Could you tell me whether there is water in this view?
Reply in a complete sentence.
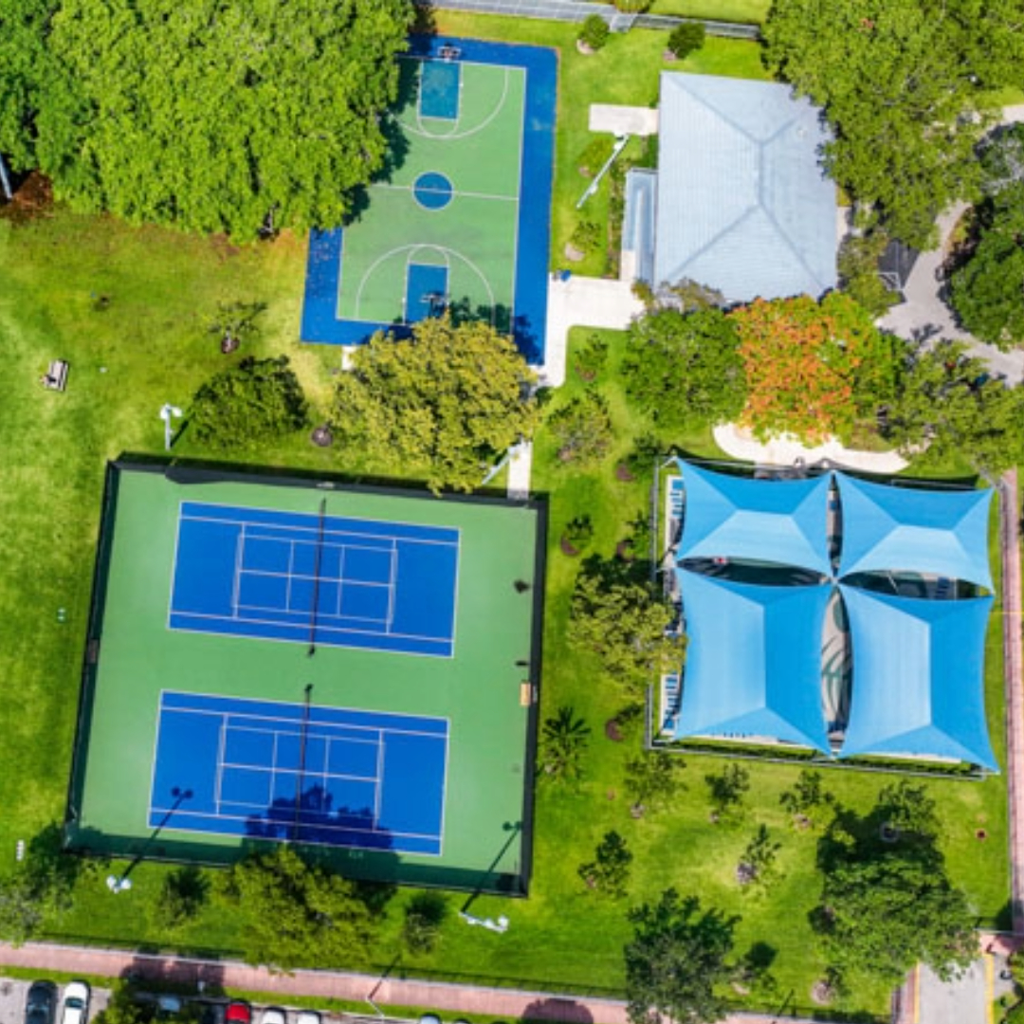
No, there's no water in this view.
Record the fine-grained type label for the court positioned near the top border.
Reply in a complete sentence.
From above, the court positioned near the top border can be identified as a basketball court.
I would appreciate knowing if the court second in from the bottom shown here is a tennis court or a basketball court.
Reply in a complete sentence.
It looks like the court second in from the bottom is a tennis court.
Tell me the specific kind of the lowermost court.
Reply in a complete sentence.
I'd identify the lowermost court as a tennis court.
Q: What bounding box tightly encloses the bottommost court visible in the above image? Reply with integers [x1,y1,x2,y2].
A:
[148,690,449,855]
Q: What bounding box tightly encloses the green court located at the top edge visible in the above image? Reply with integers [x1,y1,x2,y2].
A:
[301,25,558,365]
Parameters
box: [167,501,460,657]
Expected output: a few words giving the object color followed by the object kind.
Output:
blue tennis court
